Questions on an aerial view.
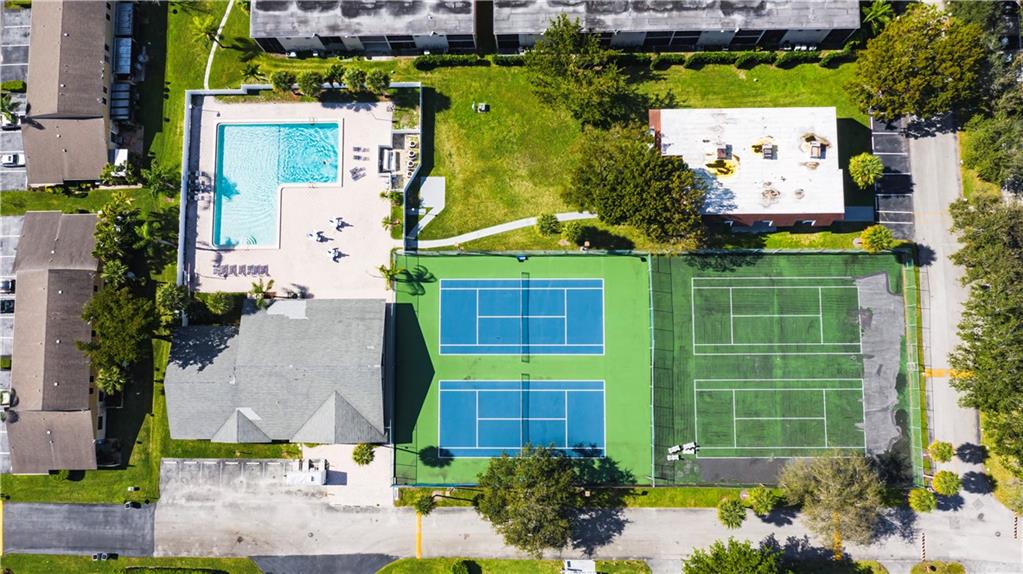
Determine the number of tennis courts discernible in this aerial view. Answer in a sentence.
In total, 4 tennis courts can be seen.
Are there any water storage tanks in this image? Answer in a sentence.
No, no water storage tank is visible in the scene.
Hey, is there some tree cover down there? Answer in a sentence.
Yes, some tree cover is visible.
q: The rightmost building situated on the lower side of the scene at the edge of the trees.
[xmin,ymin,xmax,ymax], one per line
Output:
[164,299,387,443]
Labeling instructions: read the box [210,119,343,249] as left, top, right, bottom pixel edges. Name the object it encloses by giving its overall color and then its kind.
white swimming pool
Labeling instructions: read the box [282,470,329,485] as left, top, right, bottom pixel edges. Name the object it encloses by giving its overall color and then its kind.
white trailer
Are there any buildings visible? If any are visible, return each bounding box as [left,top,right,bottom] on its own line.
[164,299,387,443]
[495,0,860,51]
[21,0,126,186]
[251,0,477,54]
[6,211,112,473]
[648,108,845,230]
